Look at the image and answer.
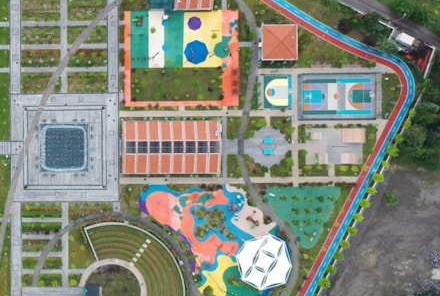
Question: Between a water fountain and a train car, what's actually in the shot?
water fountain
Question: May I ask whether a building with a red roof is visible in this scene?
Yes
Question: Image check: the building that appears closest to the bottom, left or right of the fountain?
to its right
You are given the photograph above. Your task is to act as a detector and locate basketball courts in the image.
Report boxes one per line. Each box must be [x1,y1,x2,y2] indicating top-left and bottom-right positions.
[263,75,292,109]
[299,73,379,119]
